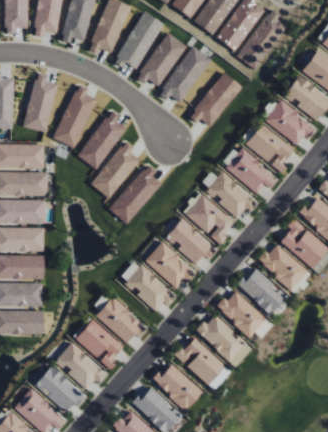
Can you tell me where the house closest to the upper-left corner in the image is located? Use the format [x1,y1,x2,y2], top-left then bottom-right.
[4,0,28,34]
